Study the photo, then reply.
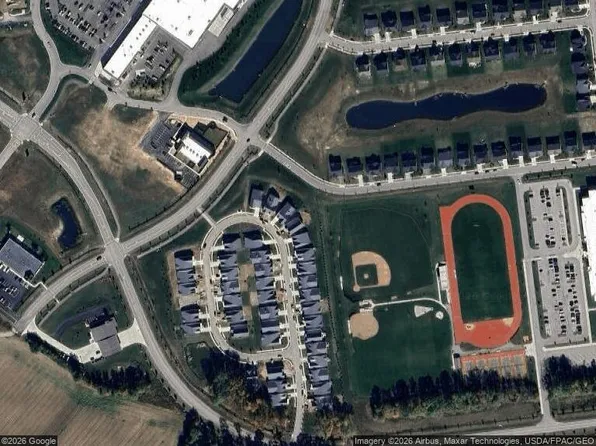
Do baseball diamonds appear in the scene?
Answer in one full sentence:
Yes, the image includes a baseball diamond.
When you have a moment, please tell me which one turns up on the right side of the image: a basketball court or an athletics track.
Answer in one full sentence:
The one visible on the right side of the image is an athletics track.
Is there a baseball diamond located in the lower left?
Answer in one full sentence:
No, I see no baseball diamond in the lower left.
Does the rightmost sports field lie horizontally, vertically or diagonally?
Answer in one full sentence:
In this picture, the rightmost sports field lies vertically.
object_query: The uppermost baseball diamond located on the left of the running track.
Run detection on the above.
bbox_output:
[340,207,432,300]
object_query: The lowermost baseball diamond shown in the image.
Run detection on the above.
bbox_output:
[346,310,452,388]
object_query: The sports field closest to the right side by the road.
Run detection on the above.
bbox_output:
[451,203,513,323]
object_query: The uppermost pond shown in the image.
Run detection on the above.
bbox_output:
[210,0,304,104]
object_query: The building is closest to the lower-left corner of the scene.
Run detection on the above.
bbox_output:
[89,318,122,353]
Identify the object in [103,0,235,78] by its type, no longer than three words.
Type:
building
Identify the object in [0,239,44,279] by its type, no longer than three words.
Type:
building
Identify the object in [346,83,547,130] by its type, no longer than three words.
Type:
pond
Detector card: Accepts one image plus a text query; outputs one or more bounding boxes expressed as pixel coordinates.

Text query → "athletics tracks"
[439,194,521,347]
